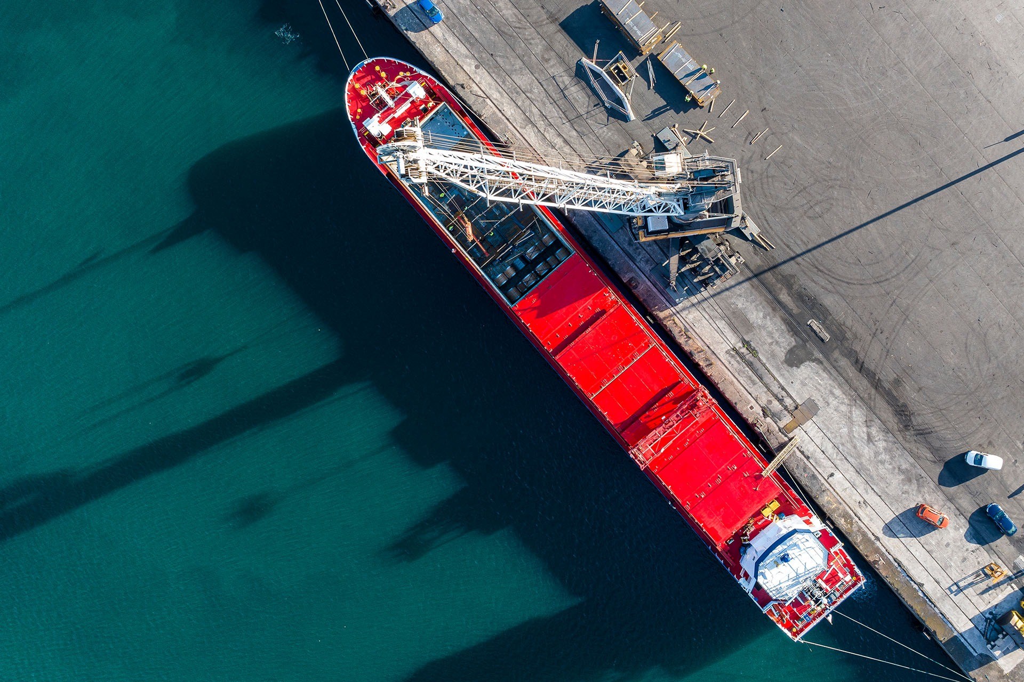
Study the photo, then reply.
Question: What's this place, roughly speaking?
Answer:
port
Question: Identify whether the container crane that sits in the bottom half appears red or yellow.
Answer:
red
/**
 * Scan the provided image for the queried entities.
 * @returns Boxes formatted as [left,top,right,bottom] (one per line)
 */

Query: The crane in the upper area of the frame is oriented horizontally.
[376,111,759,293]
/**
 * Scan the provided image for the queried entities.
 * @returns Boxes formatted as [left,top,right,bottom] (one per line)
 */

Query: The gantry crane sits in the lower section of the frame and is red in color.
[620,378,725,477]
